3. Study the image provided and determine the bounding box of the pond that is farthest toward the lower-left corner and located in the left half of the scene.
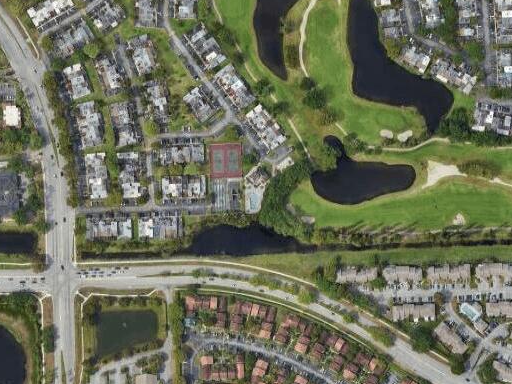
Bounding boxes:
[93,309,159,361]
